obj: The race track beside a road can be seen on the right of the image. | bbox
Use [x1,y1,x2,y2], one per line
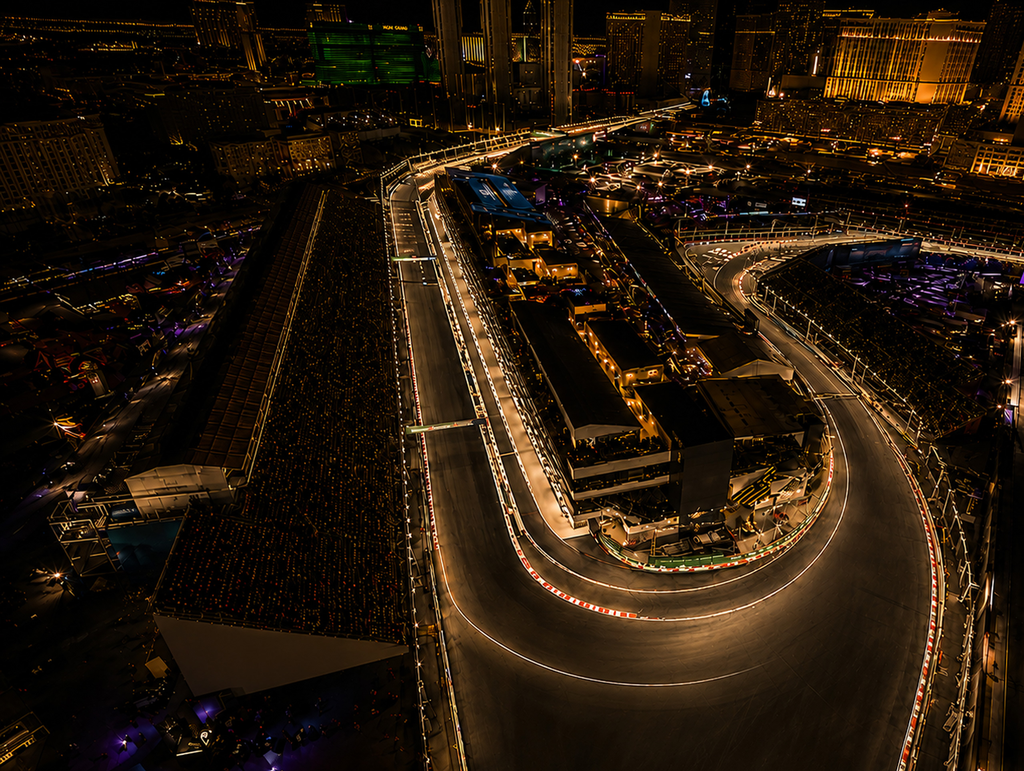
[390,176,1024,771]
